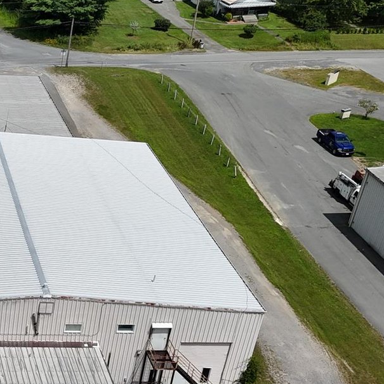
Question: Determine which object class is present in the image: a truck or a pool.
truck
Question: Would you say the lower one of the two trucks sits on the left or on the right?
right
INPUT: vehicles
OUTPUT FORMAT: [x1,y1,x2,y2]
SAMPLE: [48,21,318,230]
[318,127,357,153]
[326,165,365,207]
